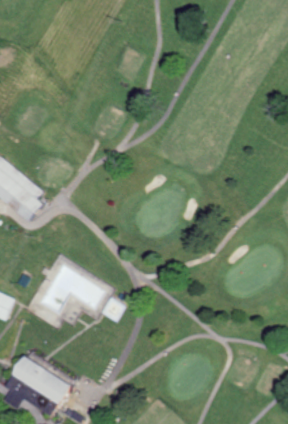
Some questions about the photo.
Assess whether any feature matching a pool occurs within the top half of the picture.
No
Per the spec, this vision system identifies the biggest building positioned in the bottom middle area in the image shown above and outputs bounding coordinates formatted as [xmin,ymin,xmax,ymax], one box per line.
[102,297,126,322]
